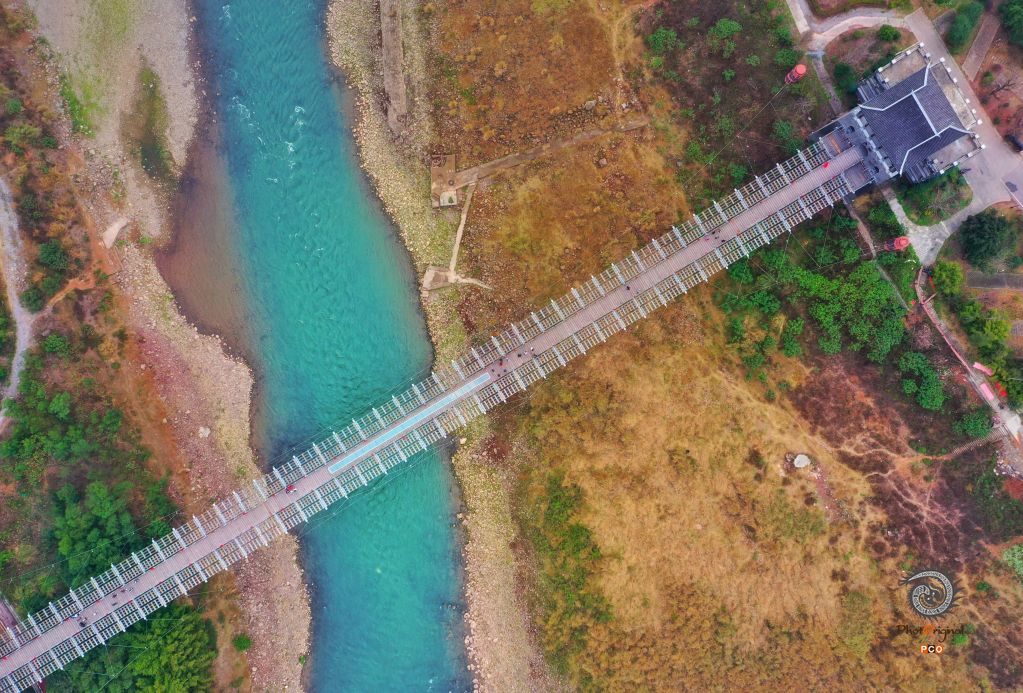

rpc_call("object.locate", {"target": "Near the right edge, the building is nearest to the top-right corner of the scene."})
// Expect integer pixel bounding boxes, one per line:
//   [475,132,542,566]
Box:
[838,42,985,188]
